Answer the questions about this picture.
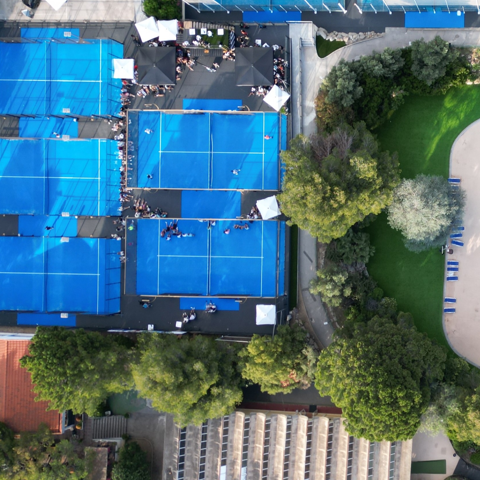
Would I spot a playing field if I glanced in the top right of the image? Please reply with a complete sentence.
No, looking in the top right of the image, there is no playing field.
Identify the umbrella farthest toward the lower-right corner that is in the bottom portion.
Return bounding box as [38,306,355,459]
[257,305,275,324]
